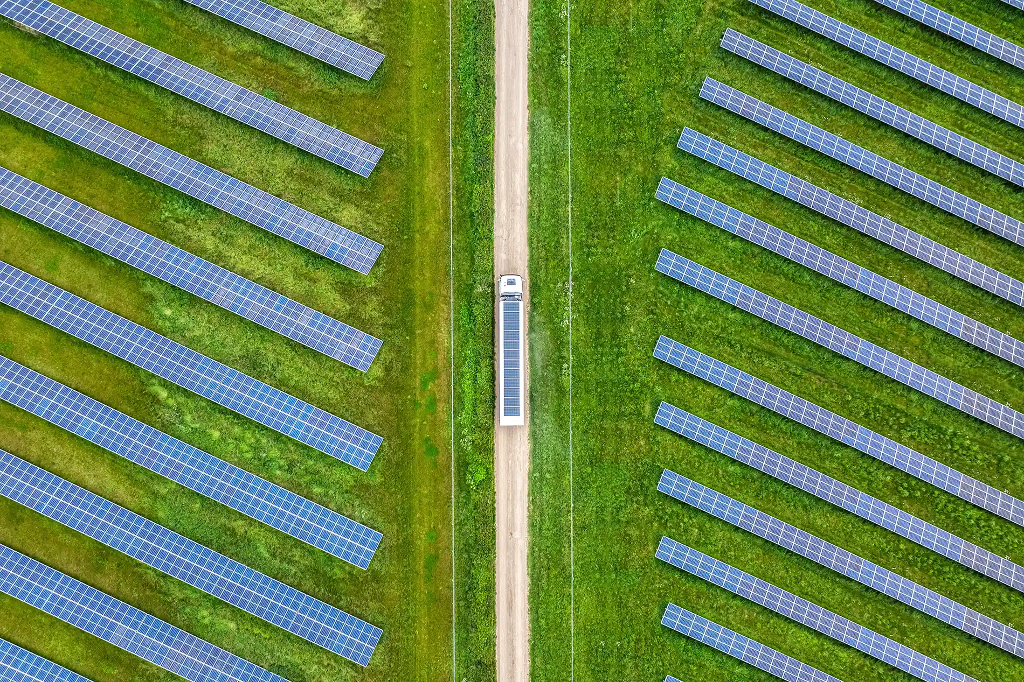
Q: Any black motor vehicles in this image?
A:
No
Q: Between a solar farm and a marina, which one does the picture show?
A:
solar farm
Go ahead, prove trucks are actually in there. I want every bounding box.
[497,273,525,427]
